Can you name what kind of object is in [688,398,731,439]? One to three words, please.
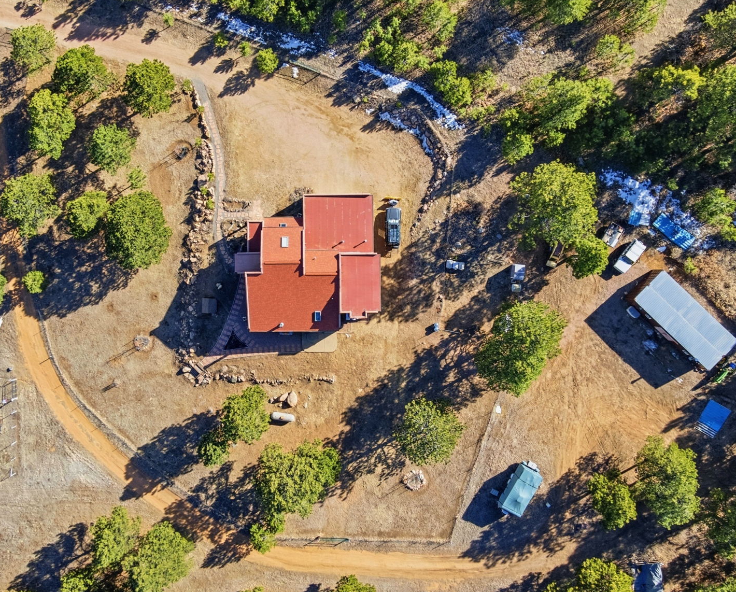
shed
